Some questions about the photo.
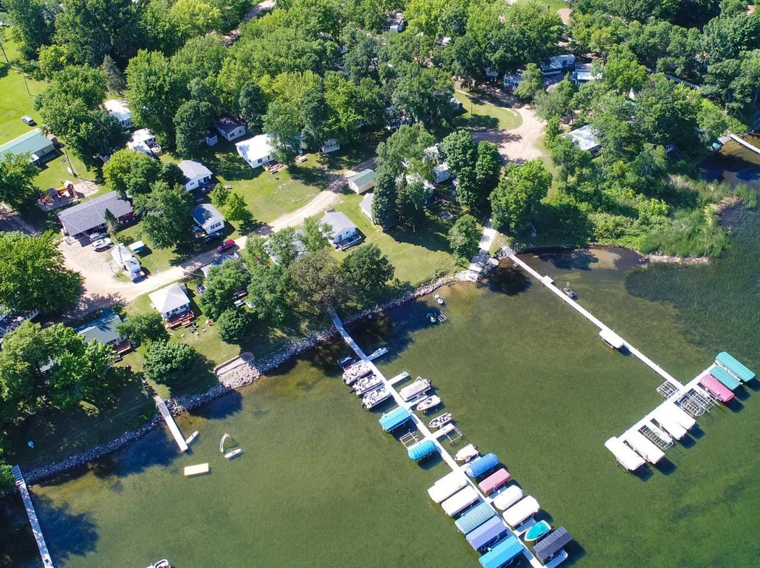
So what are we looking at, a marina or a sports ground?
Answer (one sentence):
What you see here is a marina.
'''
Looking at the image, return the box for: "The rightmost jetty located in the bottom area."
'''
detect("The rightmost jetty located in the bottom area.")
[499,247,717,445]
